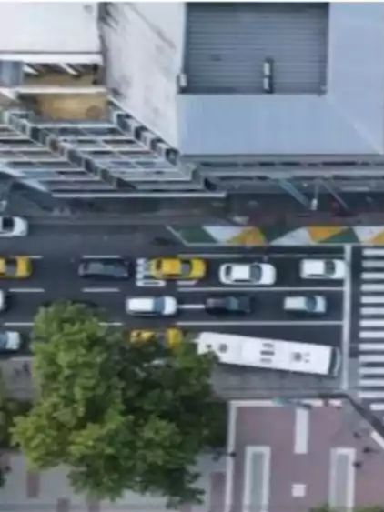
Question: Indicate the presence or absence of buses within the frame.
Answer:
Yes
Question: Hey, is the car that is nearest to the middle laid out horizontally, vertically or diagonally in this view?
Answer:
horizontally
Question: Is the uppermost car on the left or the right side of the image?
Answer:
left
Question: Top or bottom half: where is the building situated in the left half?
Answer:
top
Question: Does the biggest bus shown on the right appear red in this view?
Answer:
No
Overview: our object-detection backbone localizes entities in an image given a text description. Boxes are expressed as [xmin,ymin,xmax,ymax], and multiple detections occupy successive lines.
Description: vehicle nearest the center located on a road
[151,255,208,281]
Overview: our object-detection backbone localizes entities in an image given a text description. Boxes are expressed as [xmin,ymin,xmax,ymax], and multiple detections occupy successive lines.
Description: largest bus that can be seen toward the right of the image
[197,333,342,380]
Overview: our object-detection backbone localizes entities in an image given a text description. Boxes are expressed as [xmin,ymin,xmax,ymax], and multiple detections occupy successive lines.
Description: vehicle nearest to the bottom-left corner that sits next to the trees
[0,331,23,353]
